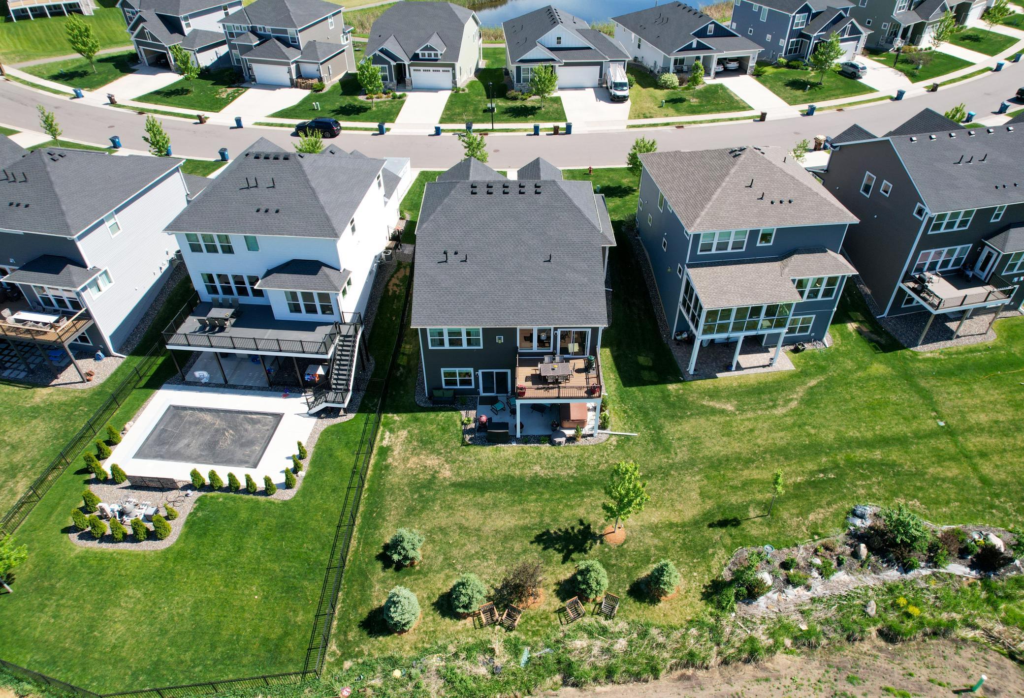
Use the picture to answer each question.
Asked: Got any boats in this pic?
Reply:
No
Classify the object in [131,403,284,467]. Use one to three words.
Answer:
swimming pool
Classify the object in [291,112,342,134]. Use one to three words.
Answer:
car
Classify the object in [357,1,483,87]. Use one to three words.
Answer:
house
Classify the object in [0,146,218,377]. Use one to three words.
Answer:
house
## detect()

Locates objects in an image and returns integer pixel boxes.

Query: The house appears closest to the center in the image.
[410,148,637,436]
